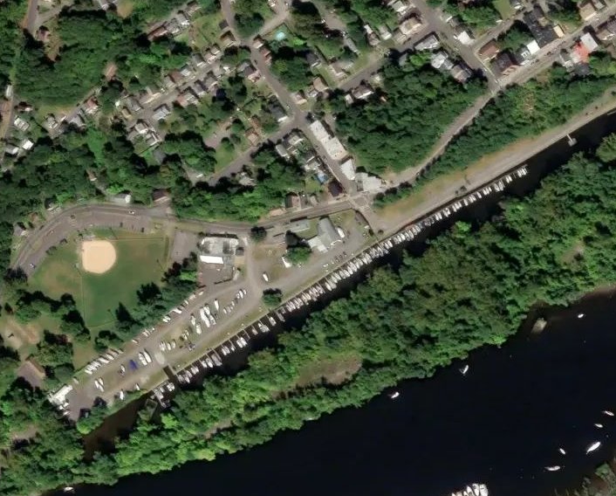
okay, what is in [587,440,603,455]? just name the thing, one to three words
boat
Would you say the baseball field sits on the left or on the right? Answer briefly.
left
